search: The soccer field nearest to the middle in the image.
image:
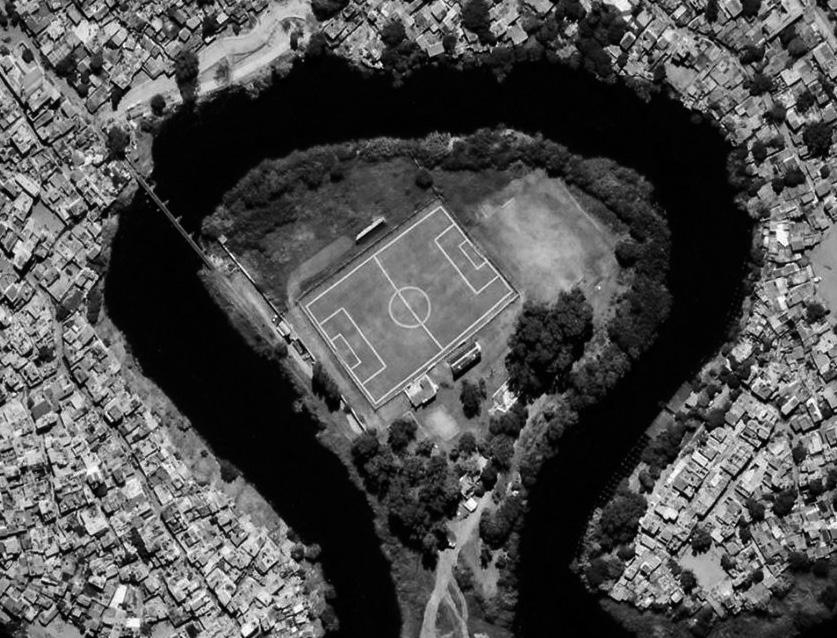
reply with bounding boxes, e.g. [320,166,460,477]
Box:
[303,203,519,410]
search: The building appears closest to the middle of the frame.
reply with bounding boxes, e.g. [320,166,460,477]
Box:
[405,377,436,406]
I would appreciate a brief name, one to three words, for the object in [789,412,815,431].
house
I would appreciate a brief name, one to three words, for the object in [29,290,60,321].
house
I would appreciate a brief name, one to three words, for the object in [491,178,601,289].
sports field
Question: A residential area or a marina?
residential area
